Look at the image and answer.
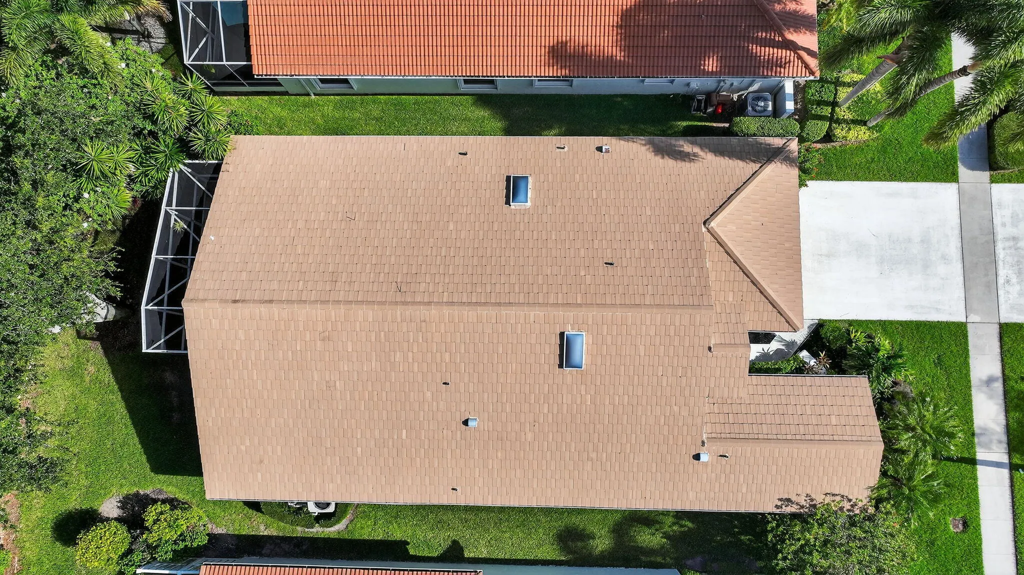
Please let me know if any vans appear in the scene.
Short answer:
No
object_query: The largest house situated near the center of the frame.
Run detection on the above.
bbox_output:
[181,133,889,517]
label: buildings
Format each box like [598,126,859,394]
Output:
[181,133,889,517]
[243,0,823,99]
[197,557,484,575]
